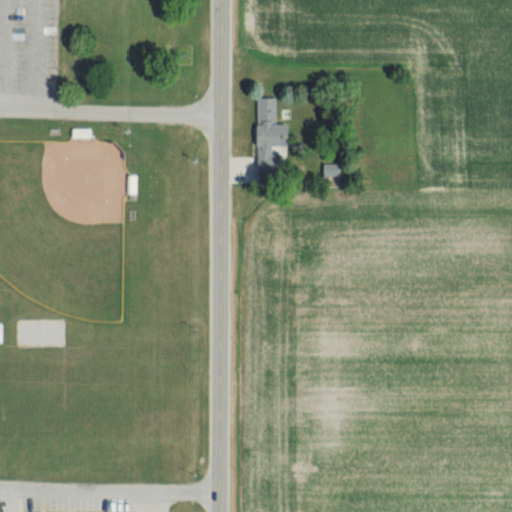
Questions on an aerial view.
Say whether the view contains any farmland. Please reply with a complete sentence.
Yes, there's farmland in this view.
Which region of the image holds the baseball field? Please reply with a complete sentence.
You can find the baseball field in the left area of the picture.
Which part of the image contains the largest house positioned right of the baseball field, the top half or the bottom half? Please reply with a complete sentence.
The largest house positioned right of the baseball field sits in the top half of the picture.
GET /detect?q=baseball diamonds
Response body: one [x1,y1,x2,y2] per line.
[0,140,124,322]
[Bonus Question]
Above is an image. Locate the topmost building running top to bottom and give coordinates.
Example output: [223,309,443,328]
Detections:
[256,98,288,168]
